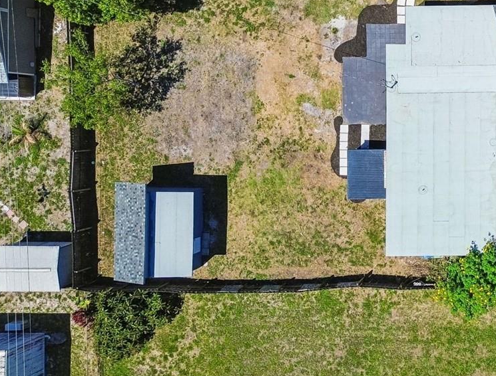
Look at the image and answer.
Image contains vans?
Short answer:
No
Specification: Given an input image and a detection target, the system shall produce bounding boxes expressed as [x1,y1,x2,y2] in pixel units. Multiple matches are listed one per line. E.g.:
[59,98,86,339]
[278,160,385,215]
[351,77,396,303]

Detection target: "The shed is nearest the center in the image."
[113,180,203,285]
